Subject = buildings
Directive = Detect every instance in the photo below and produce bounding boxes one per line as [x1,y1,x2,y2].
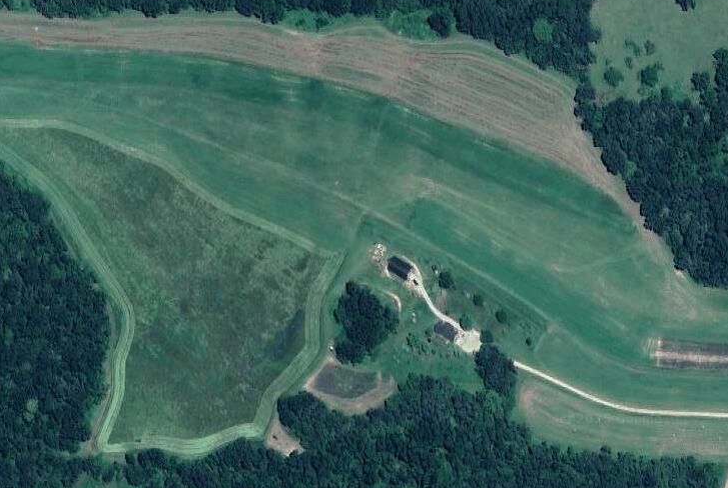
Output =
[434,320,457,341]
[388,257,411,279]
